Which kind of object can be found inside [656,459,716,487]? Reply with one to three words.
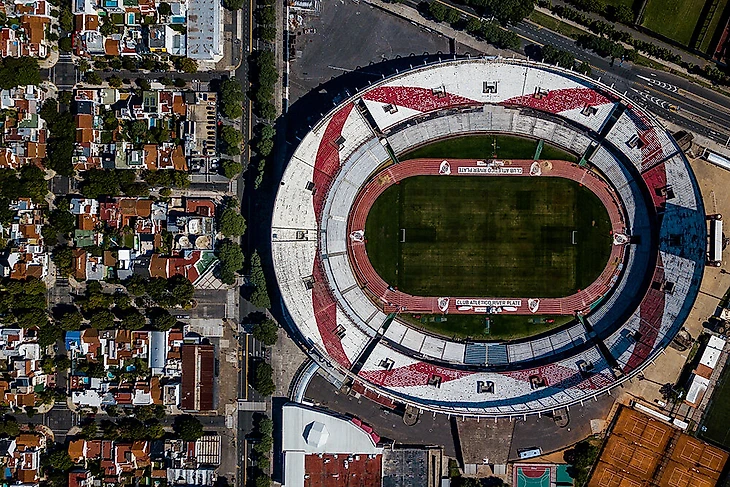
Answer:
tennis court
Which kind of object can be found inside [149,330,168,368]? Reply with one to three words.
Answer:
house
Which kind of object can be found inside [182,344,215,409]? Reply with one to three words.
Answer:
shed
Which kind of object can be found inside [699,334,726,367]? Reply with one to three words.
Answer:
building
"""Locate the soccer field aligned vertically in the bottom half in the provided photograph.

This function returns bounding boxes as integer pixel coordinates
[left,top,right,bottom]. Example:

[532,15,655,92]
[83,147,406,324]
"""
[700,352,730,444]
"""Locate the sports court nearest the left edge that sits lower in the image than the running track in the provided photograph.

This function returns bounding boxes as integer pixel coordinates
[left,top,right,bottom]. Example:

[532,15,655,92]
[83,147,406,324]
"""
[513,464,556,487]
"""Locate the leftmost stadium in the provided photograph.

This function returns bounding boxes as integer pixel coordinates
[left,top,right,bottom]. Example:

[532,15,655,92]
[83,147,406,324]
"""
[271,52,706,422]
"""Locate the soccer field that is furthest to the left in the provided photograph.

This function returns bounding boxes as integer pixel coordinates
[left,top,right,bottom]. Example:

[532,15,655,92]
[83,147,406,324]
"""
[366,177,612,297]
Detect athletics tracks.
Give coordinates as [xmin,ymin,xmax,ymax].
[350,160,627,314]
